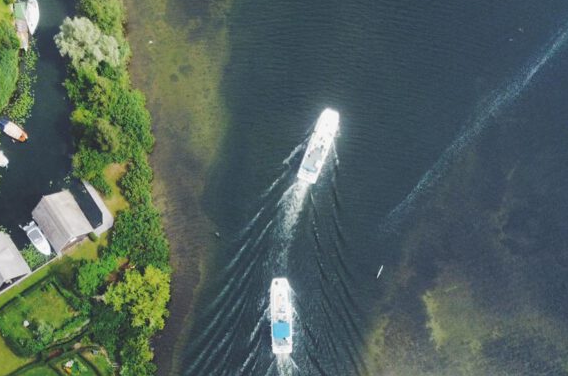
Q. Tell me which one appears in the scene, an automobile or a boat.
boat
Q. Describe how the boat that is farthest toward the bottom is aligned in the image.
up and down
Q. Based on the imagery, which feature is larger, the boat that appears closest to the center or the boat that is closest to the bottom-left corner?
the boat that appears closest to the center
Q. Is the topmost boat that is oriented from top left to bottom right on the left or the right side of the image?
left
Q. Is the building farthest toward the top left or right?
left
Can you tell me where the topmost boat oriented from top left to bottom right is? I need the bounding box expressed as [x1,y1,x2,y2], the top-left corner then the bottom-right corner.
[0,117,27,139]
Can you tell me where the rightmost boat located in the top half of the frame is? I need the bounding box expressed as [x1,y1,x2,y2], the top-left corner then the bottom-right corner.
[298,107,338,185]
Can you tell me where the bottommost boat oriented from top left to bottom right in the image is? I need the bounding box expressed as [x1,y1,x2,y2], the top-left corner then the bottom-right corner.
[19,218,50,254]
